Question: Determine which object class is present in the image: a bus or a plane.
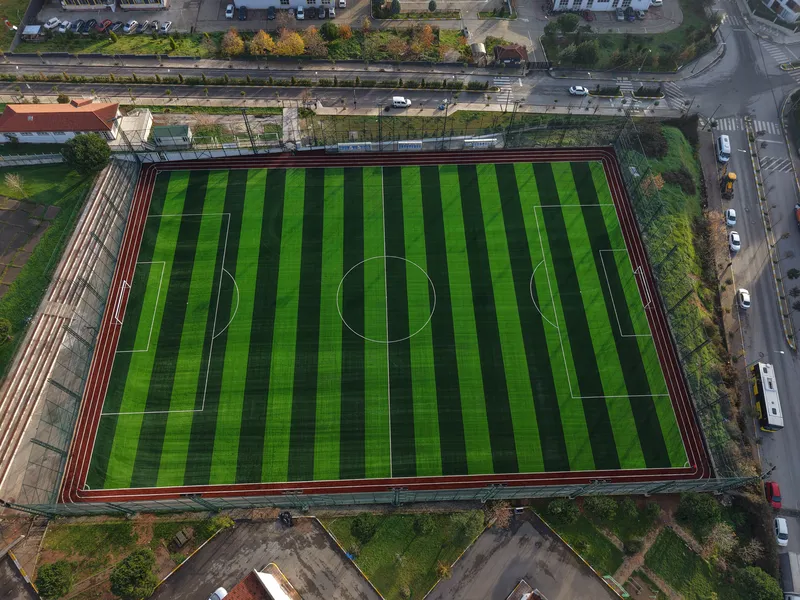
bus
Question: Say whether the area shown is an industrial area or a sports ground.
sports ground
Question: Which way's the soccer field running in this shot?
from side to side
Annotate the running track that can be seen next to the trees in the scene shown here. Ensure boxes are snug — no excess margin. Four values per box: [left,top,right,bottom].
[55,148,718,504]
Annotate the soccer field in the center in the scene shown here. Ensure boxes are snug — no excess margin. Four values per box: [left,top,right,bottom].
[83,160,691,491]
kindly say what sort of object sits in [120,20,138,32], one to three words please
vehicle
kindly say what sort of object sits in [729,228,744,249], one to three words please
car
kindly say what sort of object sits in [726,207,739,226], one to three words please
vehicle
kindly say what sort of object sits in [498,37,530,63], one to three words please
building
